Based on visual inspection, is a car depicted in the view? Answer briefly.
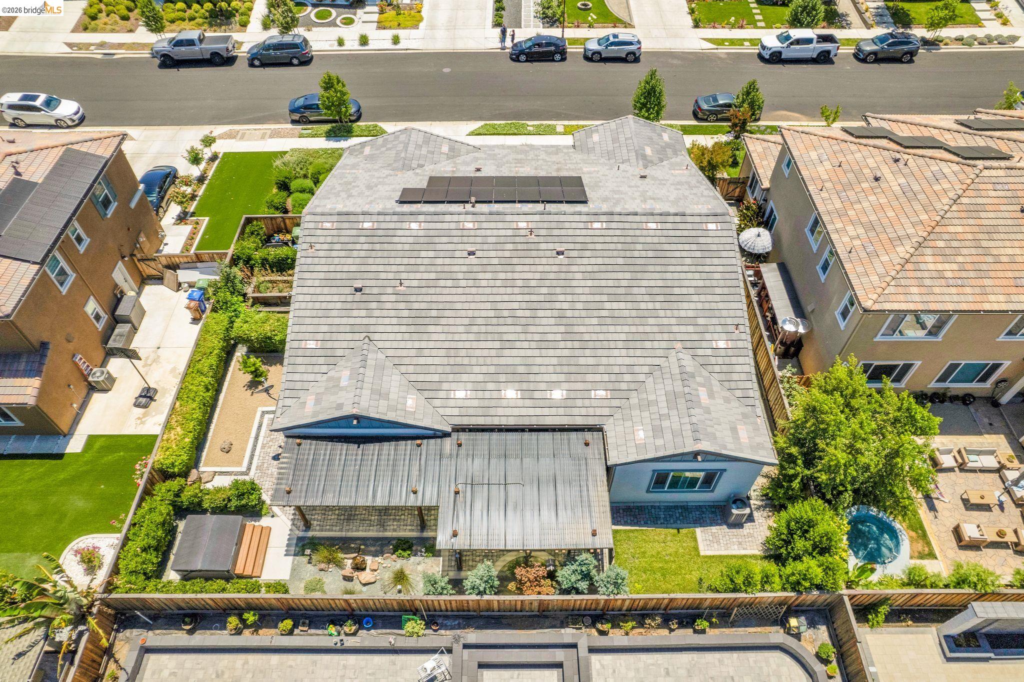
Yes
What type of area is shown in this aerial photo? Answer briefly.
residential area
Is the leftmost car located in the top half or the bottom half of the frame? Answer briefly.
top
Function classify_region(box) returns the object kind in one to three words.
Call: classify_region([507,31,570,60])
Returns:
car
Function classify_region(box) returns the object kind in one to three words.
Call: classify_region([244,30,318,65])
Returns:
car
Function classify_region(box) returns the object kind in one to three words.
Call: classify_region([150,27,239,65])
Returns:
truck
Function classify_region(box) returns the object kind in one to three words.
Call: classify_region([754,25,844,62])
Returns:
truck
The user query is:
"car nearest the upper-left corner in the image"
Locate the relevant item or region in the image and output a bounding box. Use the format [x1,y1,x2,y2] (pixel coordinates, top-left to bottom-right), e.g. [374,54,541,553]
[0,90,90,125]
